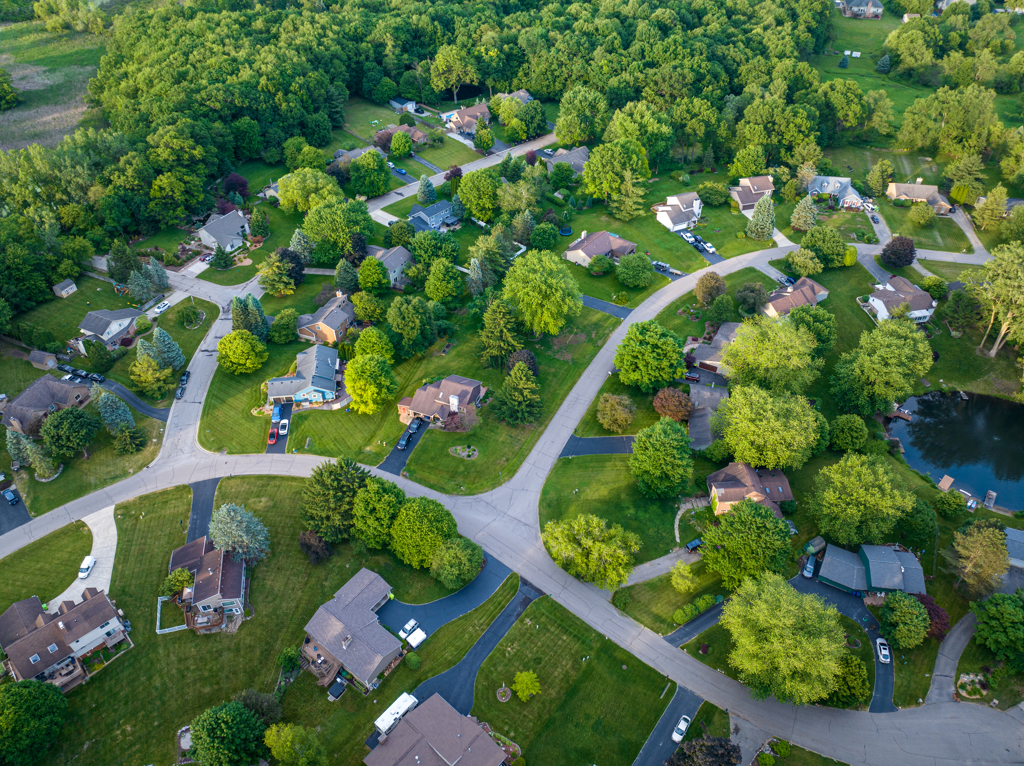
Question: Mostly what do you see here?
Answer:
trees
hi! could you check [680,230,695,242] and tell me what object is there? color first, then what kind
white vehicle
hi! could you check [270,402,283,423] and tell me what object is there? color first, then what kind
blue vehicle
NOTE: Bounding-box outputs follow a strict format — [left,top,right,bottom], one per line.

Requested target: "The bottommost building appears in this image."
[367,693,510,766]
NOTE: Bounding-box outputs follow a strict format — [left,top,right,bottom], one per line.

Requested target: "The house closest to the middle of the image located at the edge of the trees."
[398,374,481,429]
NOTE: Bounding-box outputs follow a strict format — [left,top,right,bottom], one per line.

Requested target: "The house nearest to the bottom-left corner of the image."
[0,581,131,694]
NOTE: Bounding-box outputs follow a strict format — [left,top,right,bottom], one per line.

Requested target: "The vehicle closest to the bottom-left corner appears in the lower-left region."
[77,554,96,579]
